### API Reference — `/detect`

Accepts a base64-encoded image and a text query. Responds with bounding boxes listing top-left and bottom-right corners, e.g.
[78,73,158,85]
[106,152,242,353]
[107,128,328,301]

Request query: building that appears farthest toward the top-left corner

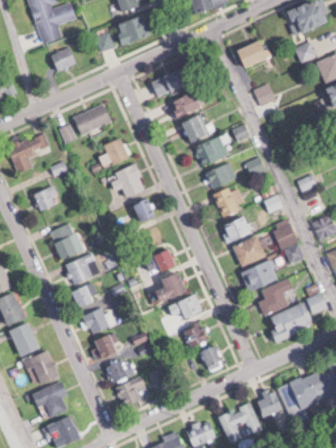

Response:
[25,0,78,46]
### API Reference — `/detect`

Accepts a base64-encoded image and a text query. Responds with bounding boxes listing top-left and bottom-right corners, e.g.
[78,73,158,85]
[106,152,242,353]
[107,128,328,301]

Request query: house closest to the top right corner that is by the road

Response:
[288,0,331,34]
